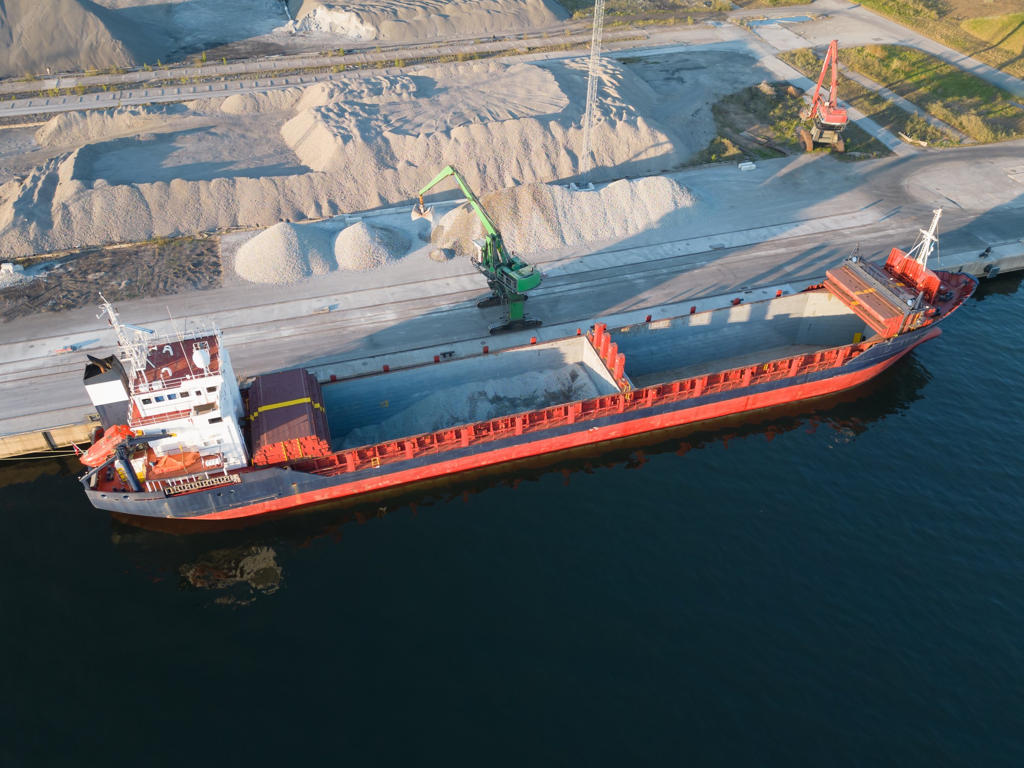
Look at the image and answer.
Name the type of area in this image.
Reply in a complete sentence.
The picture captures a port.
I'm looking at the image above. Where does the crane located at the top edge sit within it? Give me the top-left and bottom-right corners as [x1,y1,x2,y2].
[779,37,855,149]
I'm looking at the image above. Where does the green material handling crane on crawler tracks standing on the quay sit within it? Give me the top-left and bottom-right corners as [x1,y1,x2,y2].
[411,160,544,331]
